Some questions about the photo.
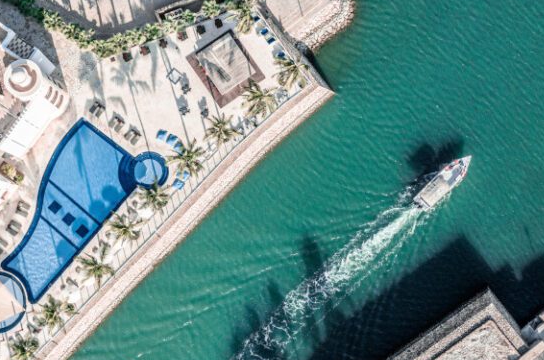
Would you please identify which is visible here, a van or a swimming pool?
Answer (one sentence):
The one in the frame is a swimming pool.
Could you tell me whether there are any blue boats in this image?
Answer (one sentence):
No, there isn't any blue boat down there.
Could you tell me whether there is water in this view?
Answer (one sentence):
Yes, some water is visible.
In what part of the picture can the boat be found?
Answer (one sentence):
Look in the right portion of the view to spot the boat.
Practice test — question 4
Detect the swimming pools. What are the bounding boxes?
[2,119,137,305]
[133,152,168,187]
[0,268,27,331]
